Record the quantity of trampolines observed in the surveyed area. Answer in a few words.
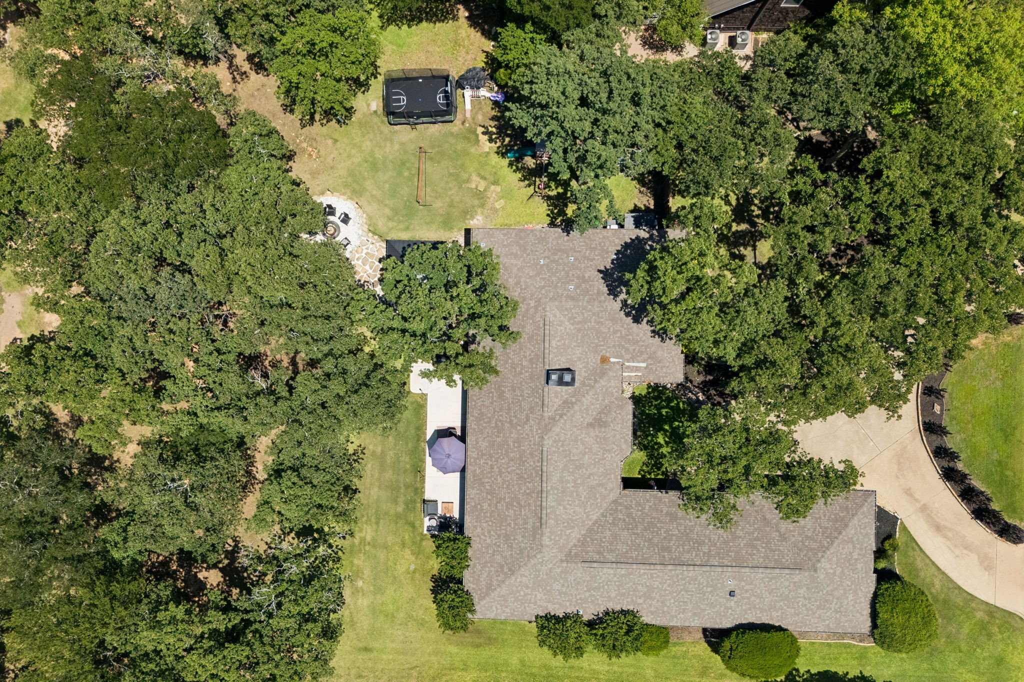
1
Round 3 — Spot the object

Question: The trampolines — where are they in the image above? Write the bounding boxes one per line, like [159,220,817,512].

[384,68,458,137]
